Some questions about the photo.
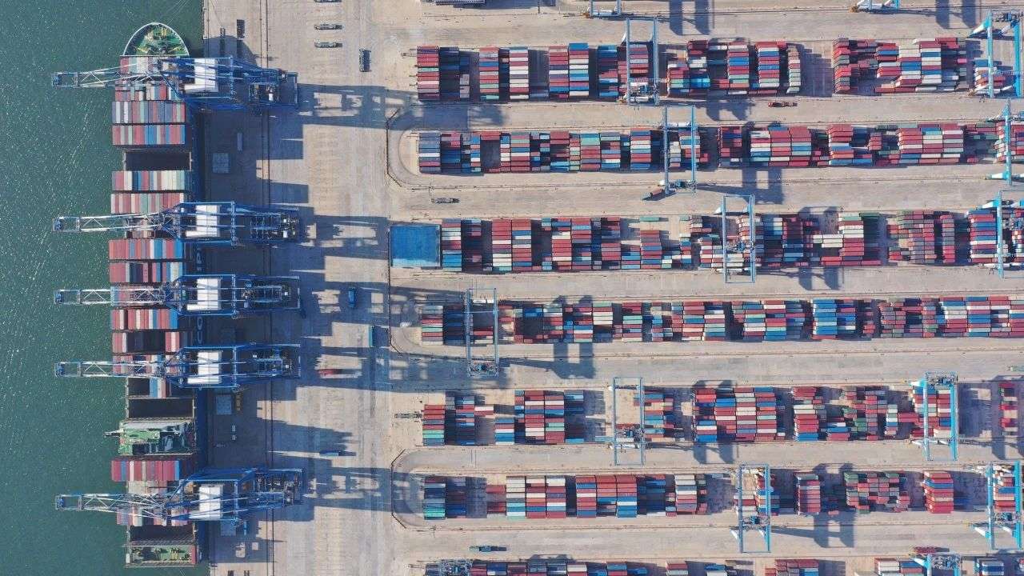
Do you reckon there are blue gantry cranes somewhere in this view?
Yes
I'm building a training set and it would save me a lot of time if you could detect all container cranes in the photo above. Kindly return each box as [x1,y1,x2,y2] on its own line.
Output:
[52,199,300,254]
[584,0,622,16]
[975,192,1024,279]
[438,555,473,576]
[655,105,697,193]
[465,289,502,376]
[984,99,1024,187]
[917,550,961,576]
[53,269,301,320]
[55,455,304,523]
[606,377,646,465]
[966,460,1022,549]
[54,335,302,390]
[711,195,755,283]
[51,54,298,123]
[905,370,958,461]
[726,463,771,552]
[966,7,1022,100]
[618,17,659,106]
